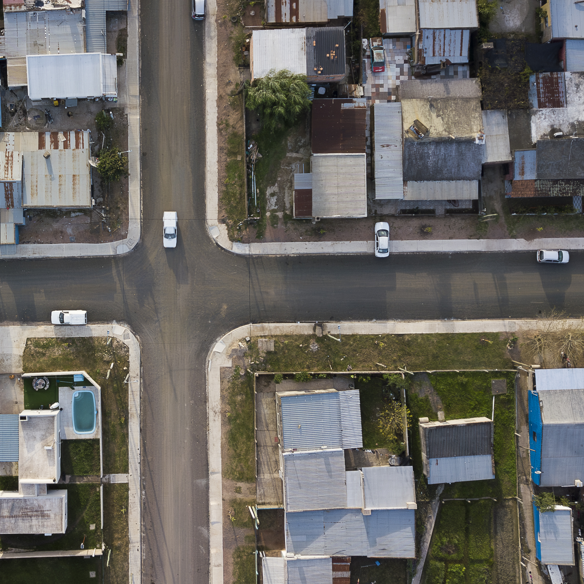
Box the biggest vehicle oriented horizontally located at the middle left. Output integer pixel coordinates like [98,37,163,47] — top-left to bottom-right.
[51,309,88,325]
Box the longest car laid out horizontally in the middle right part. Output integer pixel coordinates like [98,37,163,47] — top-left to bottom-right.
[534,249,569,265]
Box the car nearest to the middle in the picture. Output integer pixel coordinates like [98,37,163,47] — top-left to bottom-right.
[374,221,392,258]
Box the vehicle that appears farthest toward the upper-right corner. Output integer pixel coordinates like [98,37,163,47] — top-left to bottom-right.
[370,37,386,74]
